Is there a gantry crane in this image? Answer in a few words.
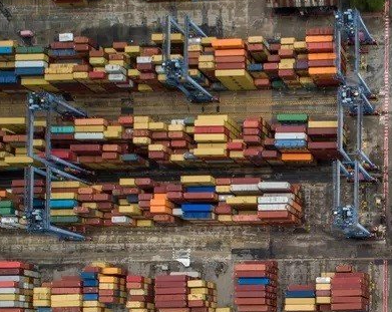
Yes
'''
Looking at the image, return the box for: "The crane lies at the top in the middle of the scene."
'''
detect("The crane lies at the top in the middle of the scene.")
[164,11,215,99]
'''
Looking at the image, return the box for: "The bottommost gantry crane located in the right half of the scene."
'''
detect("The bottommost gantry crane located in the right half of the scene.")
[333,158,371,239]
